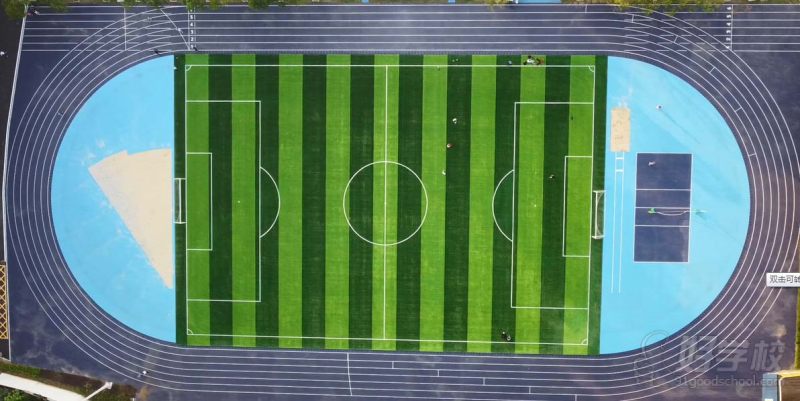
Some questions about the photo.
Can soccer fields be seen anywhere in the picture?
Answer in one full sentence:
Yes, the picture does show a soccer field.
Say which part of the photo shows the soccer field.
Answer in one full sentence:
The soccer field appears toward the center of the photo.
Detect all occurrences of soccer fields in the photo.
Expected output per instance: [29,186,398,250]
[174,54,607,356]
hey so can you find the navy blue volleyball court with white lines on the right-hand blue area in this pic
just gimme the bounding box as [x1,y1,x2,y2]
[634,152,692,263]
